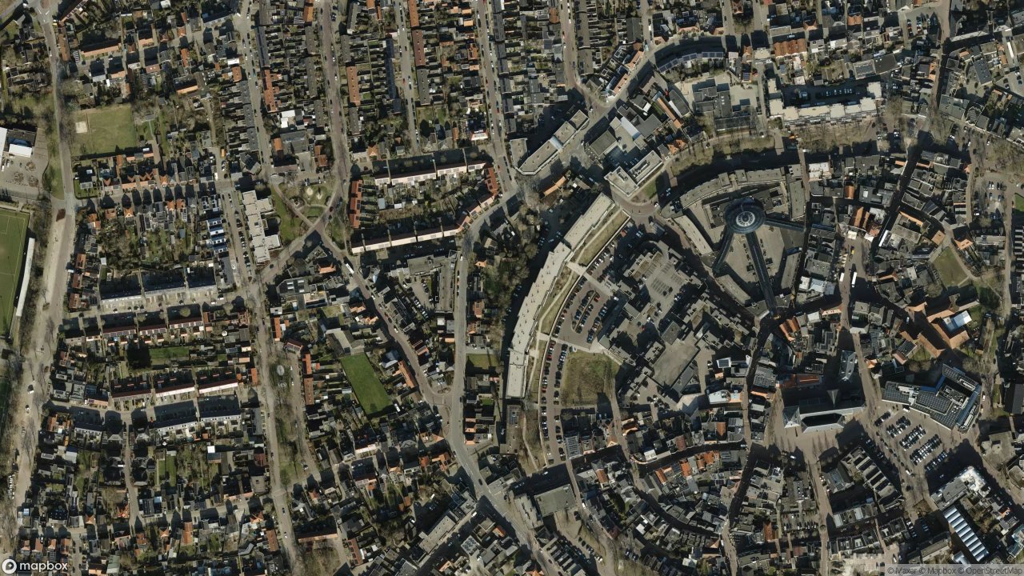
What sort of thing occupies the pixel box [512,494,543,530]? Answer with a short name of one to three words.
building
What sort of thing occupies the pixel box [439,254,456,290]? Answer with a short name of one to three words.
building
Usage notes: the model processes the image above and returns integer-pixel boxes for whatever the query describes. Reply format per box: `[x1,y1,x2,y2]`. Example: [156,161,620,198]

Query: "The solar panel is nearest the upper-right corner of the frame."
[853,61,875,79]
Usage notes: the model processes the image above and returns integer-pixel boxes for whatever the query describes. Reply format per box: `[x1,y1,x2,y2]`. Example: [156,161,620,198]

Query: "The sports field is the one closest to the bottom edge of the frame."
[0,208,30,334]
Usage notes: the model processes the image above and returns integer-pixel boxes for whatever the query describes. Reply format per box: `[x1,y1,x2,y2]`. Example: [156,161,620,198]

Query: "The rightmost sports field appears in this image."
[72,104,136,157]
